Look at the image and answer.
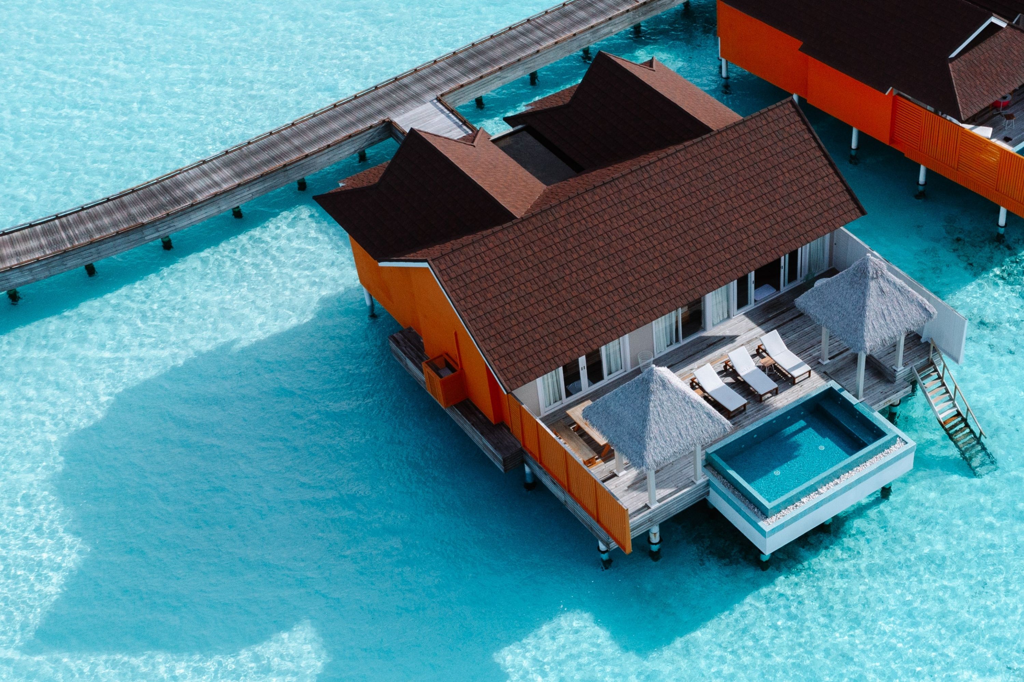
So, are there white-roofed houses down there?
No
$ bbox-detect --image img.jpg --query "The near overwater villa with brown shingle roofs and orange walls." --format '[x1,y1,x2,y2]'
[315,50,867,507]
